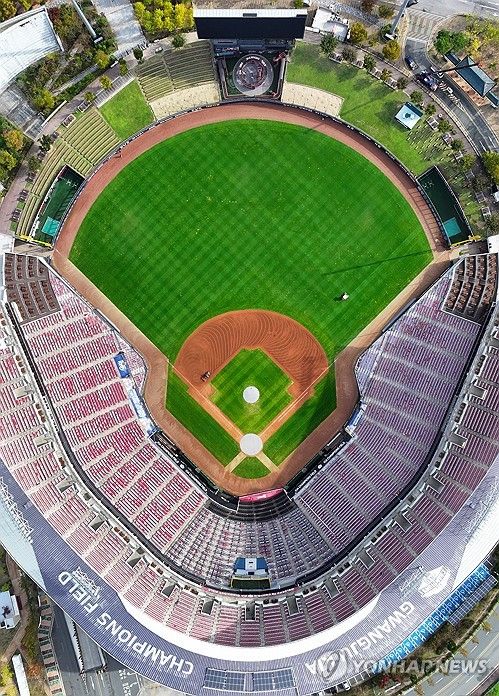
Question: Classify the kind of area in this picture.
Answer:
sports ground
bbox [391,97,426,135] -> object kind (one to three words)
tent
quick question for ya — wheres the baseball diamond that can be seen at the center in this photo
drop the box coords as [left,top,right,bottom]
[46,103,455,503]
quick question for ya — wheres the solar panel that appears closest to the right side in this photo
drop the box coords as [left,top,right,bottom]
[450,578,498,625]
